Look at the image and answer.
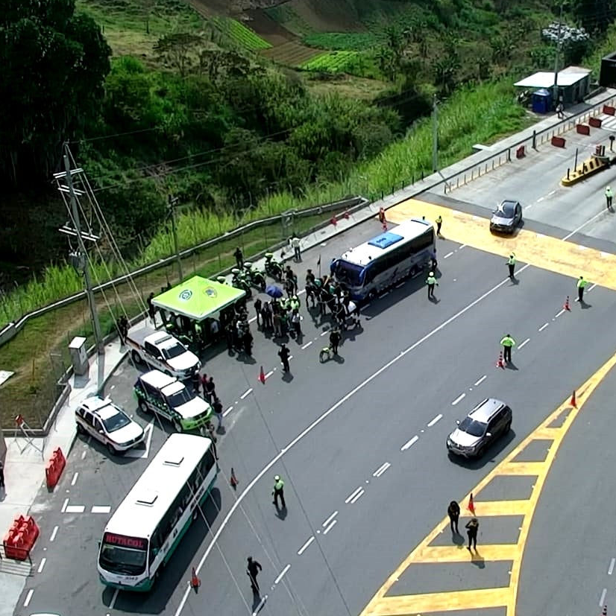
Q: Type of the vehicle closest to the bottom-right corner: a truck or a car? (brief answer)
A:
car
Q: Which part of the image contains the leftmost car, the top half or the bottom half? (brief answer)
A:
bottom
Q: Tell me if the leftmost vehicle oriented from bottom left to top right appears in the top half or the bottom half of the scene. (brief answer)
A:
bottom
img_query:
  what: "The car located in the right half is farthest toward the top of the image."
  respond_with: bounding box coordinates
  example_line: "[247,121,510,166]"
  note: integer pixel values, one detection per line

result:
[491,200,521,235]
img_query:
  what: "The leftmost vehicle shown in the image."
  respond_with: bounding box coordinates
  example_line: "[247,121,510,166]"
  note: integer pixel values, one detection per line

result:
[73,392,146,458]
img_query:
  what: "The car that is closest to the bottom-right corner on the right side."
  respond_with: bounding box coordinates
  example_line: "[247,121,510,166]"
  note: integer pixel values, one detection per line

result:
[446,398,517,461]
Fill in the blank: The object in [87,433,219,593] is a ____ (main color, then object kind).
white vehicle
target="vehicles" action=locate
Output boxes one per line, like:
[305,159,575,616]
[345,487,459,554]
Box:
[87,433,219,593]
[73,392,146,458]
[264,254,282,283]
[172,318,197,347]
[334,214,446,305]
[129,369,208,436]
[247,263,265,292]
[232,269,250,298]
[491,200,521,235]
[446,398,517,461]
[120,330,201,383]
